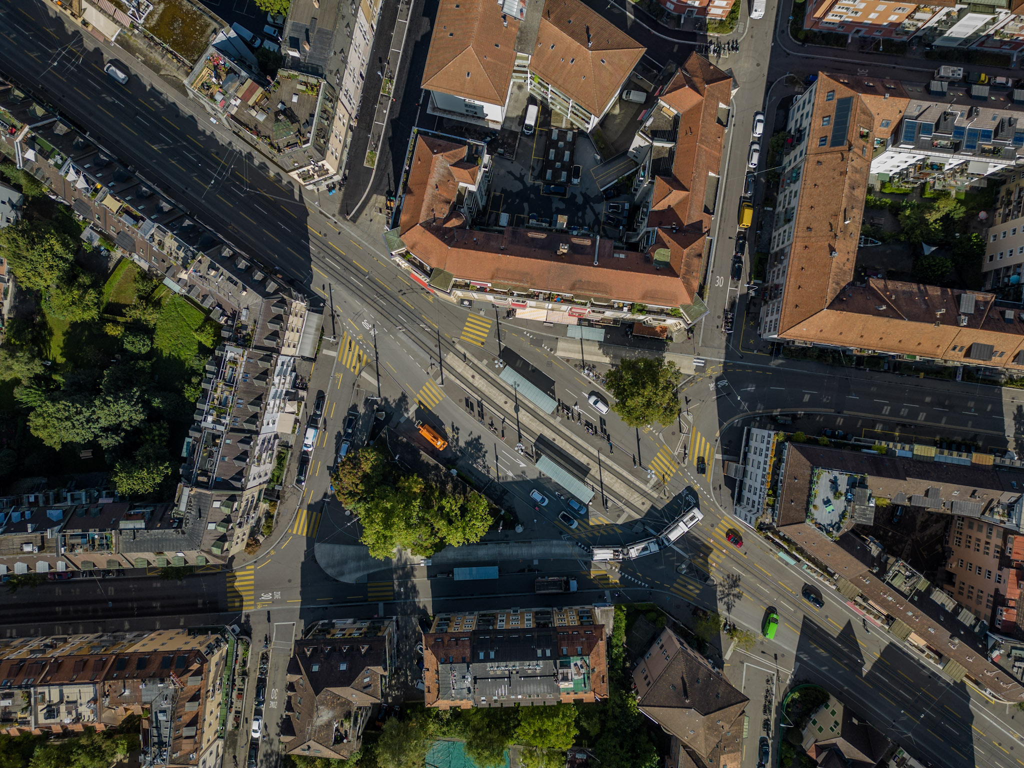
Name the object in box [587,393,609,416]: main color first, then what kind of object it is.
white car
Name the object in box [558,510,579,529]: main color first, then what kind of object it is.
black car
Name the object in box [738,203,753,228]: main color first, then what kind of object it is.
yellow vehicle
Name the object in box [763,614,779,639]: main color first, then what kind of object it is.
green vehicle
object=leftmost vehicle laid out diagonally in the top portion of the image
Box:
[104,64,131,86]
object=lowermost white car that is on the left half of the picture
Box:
[252,715,264,737]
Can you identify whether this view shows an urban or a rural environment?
urban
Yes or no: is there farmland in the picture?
No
